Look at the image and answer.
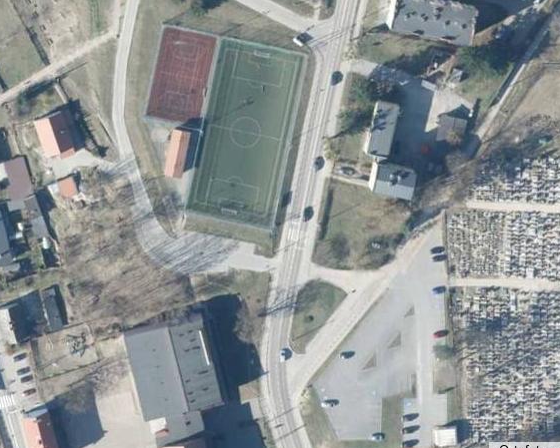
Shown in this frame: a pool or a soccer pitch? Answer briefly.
soccer pitch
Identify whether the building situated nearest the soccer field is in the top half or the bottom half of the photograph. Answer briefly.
top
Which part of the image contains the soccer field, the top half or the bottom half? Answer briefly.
top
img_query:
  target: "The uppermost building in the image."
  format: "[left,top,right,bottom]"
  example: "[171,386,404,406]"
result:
[387,0,476,46]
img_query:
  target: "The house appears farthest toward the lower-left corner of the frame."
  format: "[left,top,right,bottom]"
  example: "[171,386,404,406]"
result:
[22,411,58,448]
